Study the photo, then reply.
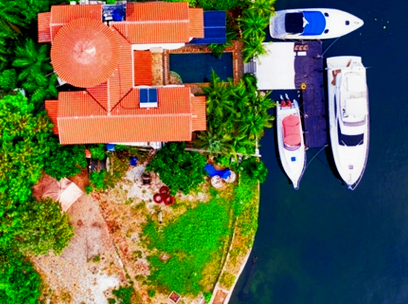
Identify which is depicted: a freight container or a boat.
boat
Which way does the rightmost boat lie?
from top to bottom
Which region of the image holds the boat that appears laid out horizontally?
top right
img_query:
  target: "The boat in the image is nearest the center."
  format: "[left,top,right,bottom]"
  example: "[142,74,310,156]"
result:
[277,90,306,193]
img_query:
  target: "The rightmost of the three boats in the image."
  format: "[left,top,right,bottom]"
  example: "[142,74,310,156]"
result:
[324,50,373,190]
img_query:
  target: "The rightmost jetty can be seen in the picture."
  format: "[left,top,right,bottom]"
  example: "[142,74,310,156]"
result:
[264,40,328,147]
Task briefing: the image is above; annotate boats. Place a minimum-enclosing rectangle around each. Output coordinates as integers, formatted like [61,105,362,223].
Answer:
[324,50,373,190]
[267,7,366,39]
[277,90,306,193]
